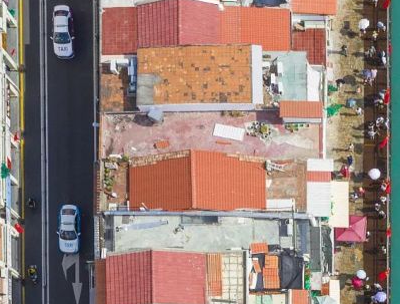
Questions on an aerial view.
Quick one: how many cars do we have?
2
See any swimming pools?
No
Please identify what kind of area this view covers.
residential area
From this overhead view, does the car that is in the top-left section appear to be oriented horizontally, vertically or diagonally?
vertically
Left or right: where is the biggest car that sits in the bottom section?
left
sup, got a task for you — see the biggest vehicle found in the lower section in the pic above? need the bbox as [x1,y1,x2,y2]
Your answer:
[57,204,84,255]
